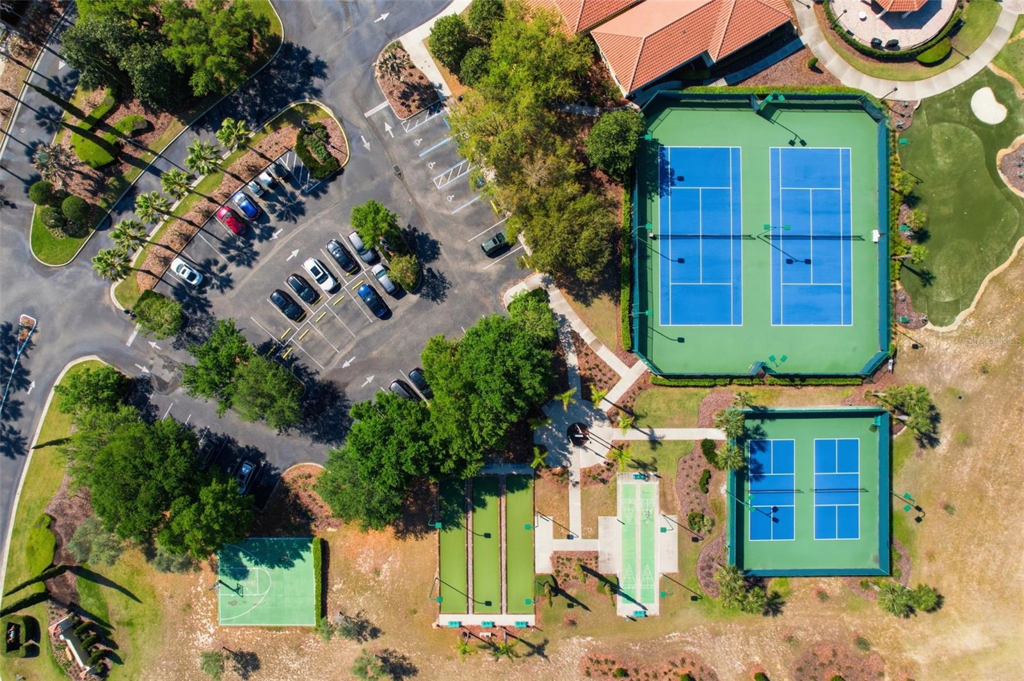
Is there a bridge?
No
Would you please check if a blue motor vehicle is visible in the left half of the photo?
Yes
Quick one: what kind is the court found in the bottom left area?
basketball court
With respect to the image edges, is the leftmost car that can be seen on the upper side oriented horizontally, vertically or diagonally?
diagonally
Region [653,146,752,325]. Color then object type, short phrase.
blue tennis court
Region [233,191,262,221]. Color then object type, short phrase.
blue car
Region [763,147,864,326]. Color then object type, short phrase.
blue tennis court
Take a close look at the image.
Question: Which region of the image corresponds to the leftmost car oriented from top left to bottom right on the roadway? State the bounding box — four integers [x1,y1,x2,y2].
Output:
[171,257,204,285]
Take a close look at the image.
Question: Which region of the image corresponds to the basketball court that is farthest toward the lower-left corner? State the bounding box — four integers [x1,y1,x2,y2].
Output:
[218,538,314,626]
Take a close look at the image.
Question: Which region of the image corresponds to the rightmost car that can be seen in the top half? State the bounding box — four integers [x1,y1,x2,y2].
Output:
[481,233,507,254]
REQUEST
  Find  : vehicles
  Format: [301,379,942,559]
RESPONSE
[248,181,267,199]
[171,257,204,285]
[408,369,426,393]
[389,375,419,408]
[347,234,378,266]
[306,257,337,293]
[272,163,290,181]
[359,283,389,319]
[217,206,247,235]
[273,288,303,323]
[258,171,276,189]
[327,238,358,274]
[481,233,507,254]
[290,272,319,307]
[233,191,262,221]
[371,262,400,296]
